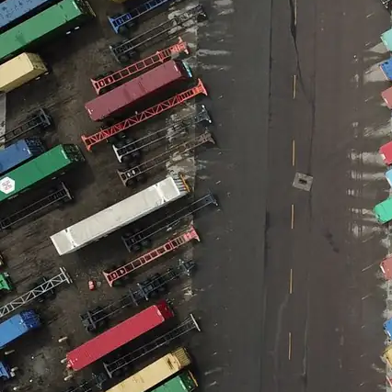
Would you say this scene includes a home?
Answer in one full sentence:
No, no home can be seen from above.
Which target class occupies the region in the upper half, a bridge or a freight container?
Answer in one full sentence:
You can see a freight container in the upper half.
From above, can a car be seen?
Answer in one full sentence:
No, there appears to be no car in this shot.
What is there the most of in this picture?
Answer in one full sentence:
For the most part, this view shows paved ground.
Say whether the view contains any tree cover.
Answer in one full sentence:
No, tree cover can't be seen anywhere here.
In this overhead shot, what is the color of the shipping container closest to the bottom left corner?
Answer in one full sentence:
In this view, the shipping container closest to the bottom left corner is blue.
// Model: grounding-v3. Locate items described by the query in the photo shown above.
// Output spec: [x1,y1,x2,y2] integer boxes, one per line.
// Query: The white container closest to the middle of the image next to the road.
[51,175,190,255]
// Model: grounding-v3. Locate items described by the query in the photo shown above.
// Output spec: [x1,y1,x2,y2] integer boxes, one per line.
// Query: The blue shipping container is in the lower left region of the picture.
[0,308,43,347]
